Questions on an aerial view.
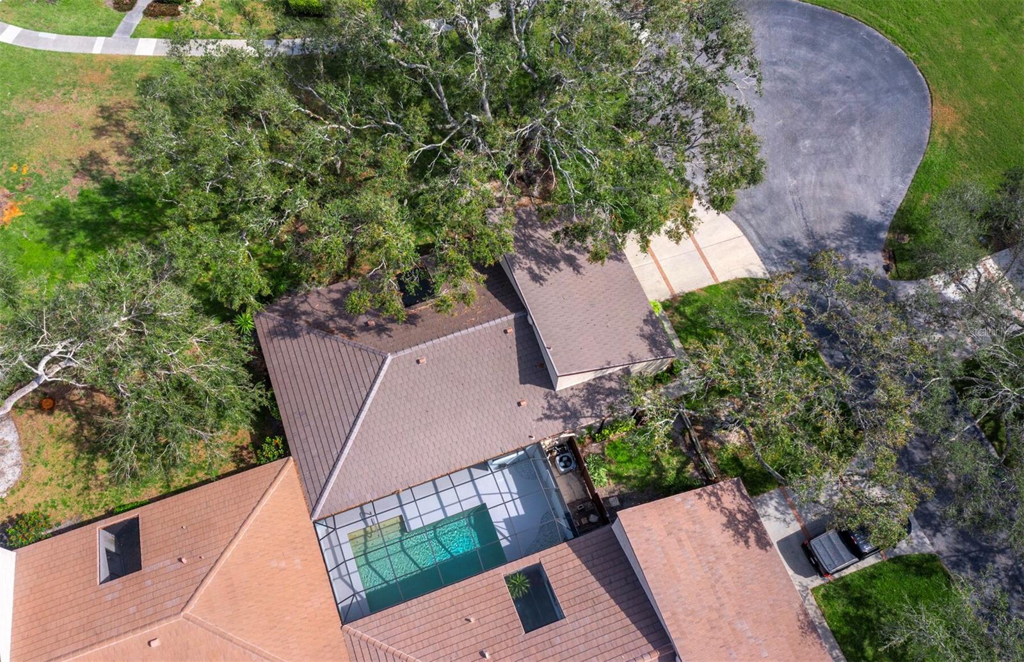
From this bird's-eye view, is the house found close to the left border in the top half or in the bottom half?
bottom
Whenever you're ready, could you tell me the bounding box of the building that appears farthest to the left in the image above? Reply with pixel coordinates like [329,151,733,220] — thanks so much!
[0,455,353,662]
